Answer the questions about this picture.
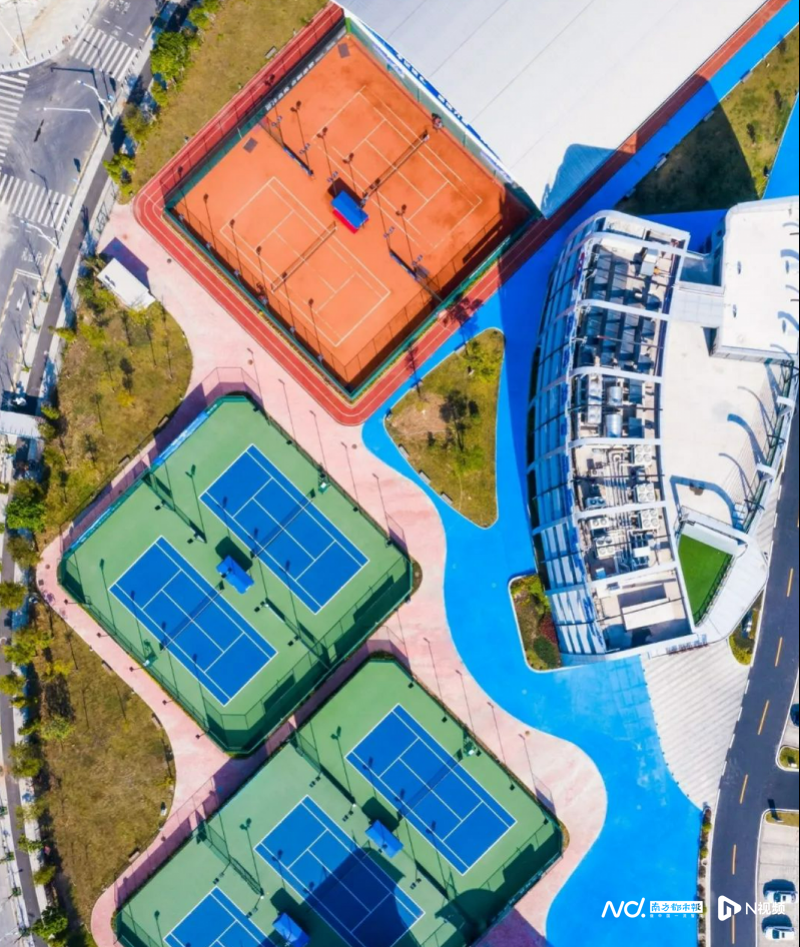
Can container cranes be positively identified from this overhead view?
No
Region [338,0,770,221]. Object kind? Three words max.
building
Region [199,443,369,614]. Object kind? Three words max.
tennis court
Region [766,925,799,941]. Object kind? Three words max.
car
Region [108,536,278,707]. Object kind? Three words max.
tennis court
